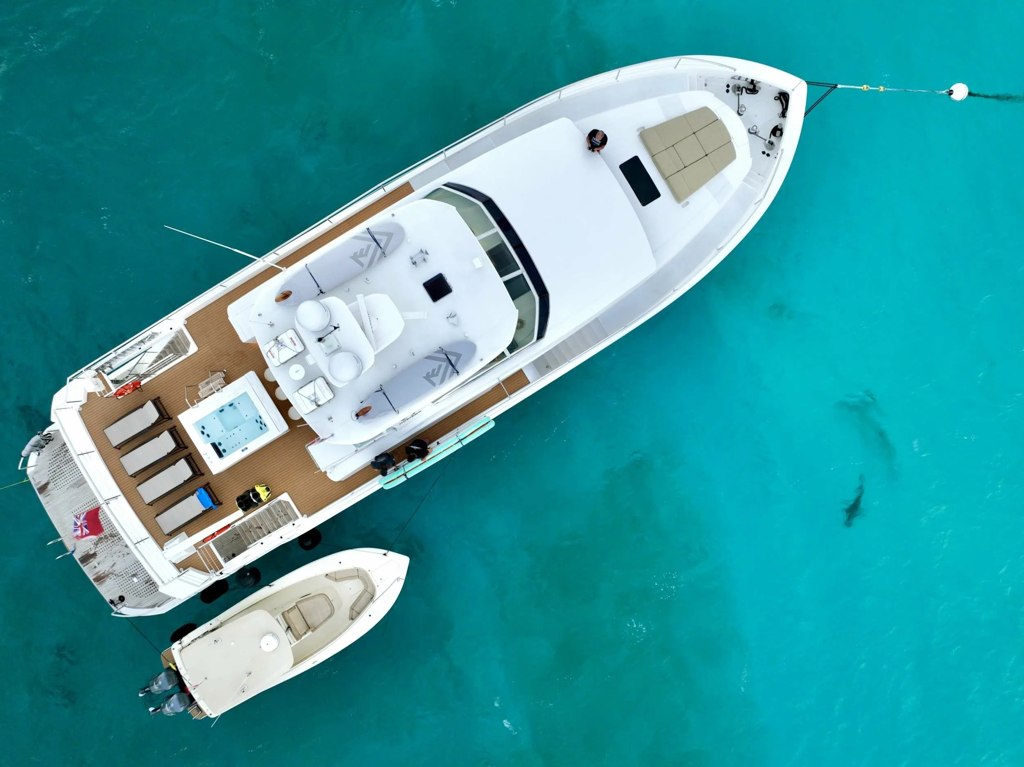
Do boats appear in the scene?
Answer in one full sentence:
Yes, the photo shows a boat.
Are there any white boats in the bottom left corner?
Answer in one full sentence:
Yes, a white boat is visible in the bottom left corner.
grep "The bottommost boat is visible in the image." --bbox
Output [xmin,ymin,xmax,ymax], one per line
[134,547,411,727]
